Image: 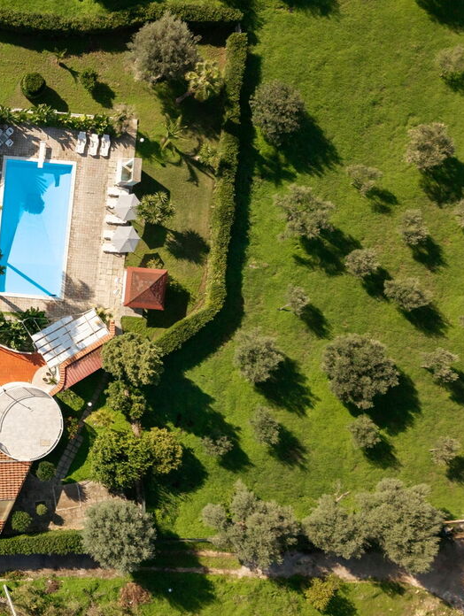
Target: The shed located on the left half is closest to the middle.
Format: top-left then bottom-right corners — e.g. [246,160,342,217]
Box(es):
[118,267,167,310]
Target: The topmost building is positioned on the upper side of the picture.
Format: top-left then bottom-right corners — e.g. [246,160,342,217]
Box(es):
[111,158,142,187]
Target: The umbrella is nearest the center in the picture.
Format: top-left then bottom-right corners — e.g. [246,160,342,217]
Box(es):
[111,227,140,253]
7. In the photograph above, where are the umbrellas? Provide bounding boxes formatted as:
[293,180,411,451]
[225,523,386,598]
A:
[111,227,140,253]
[111,194,141,221]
